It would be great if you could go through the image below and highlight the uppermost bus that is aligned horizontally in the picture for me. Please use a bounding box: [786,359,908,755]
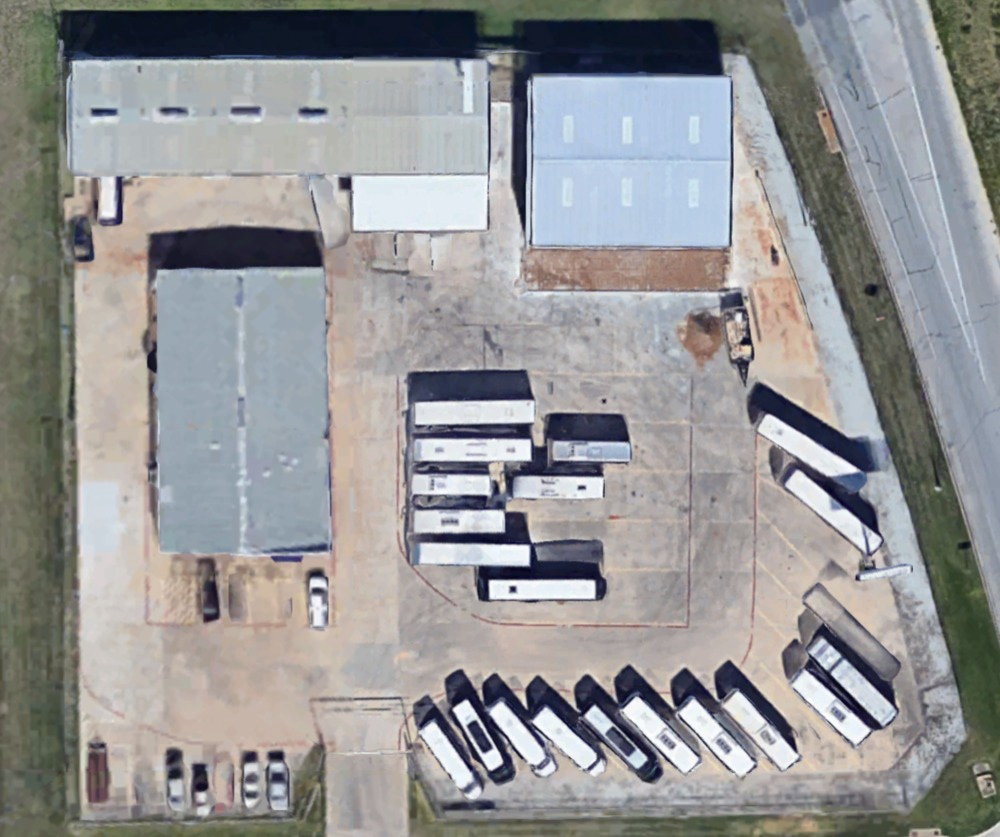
[410,400,535,430]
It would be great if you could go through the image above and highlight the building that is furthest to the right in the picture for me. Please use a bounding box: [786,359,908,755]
[526,74,730,251]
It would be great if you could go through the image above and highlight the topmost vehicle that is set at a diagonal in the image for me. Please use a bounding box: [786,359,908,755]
[753,414,866,500]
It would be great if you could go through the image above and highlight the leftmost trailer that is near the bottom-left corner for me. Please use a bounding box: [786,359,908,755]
[86,737,109,803]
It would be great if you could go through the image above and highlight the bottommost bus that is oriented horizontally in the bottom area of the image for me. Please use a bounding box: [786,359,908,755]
[476,577,604,605]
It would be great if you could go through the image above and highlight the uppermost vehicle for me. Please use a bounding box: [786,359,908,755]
[96,177,123,229]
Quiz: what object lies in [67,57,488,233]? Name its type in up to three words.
warehouse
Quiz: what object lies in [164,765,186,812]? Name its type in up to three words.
car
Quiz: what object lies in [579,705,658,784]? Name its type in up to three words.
bus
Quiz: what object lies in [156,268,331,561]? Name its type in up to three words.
building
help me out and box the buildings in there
[67,57,488,233]
[156,268,331,561]
[526,74,730,251]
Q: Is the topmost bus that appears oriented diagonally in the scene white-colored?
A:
Yes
